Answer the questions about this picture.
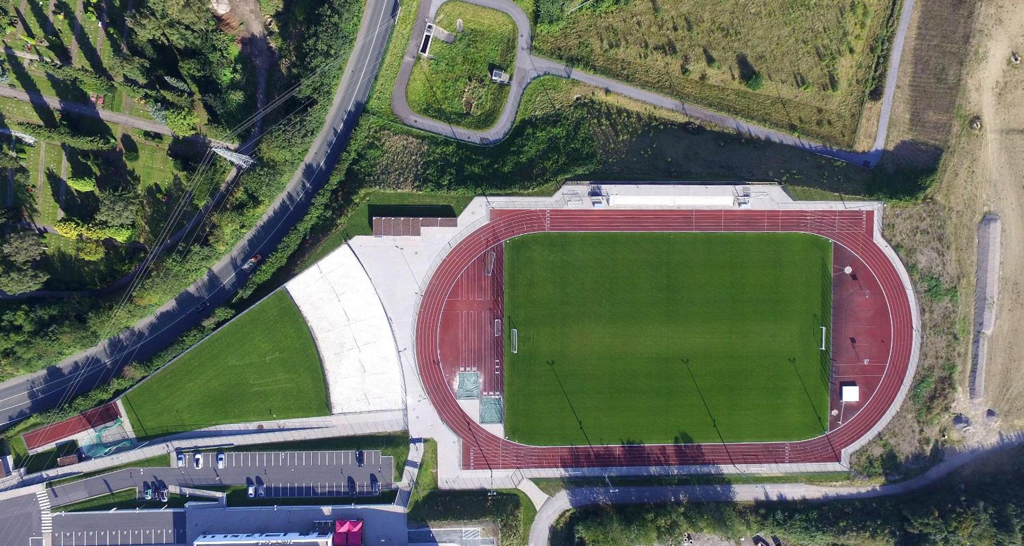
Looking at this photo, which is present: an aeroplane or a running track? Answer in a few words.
running track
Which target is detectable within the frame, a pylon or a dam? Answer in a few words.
pylon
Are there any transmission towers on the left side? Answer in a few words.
Yes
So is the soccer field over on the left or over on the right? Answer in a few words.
right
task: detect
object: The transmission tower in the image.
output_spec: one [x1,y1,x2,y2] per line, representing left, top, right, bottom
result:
[208,145,253,169]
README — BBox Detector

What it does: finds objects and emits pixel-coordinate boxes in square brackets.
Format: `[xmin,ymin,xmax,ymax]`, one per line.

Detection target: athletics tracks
[415,209,916,471]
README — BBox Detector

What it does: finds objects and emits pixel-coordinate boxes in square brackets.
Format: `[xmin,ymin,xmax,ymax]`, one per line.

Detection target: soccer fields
[504,232,834,446]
